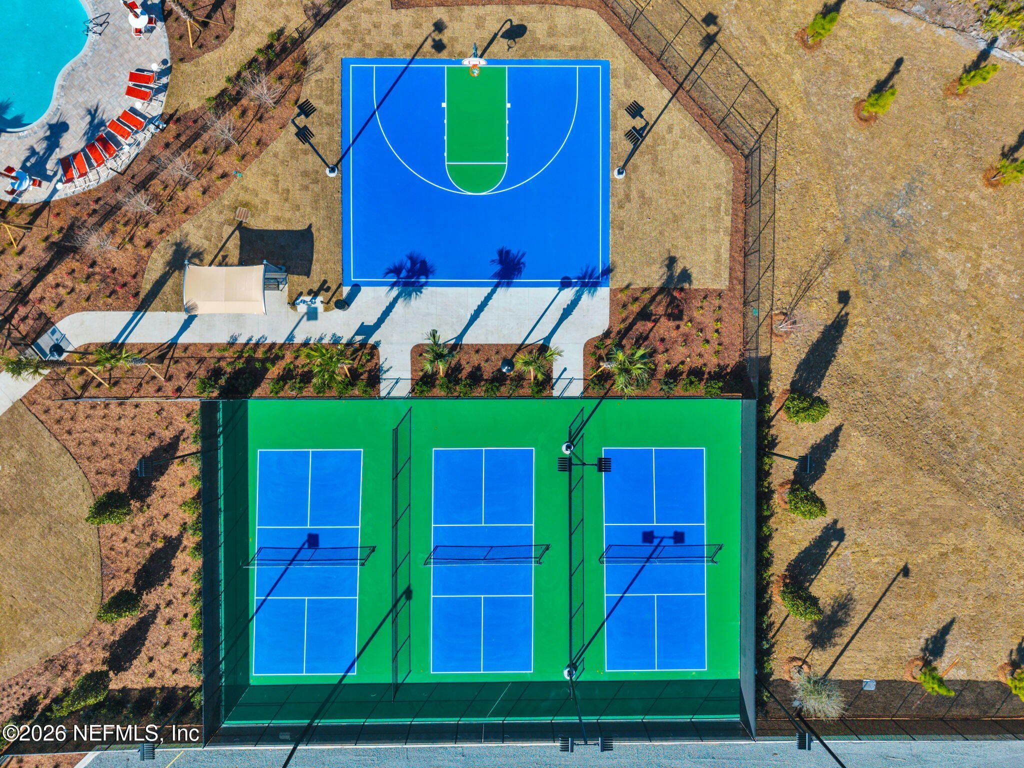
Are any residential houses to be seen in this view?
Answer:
No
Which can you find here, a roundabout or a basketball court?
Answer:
basketball court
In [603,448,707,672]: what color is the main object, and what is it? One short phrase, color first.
blue sports court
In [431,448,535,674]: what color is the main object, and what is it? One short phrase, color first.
blue sports court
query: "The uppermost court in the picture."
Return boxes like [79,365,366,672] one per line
[342,57,610,287]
